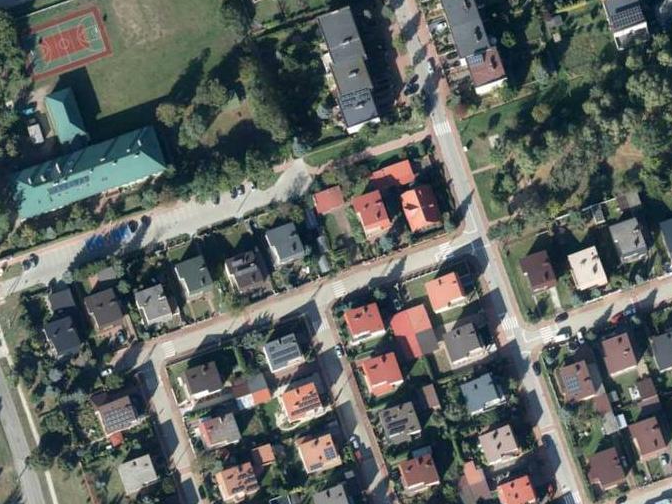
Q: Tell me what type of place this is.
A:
residential area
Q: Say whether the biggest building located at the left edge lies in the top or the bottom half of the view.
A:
top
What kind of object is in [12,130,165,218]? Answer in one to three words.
building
